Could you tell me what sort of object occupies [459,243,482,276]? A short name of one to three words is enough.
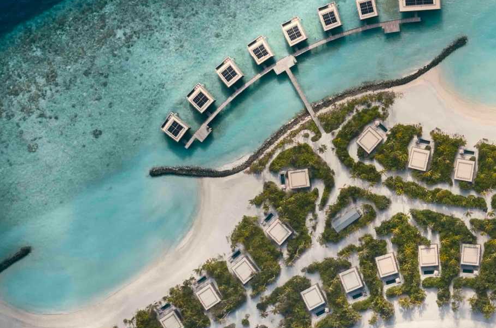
house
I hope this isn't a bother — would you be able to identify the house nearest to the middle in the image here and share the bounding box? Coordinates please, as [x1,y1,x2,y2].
[279,167,312,190]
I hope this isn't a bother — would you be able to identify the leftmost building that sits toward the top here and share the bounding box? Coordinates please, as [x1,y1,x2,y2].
[161,113,192,141]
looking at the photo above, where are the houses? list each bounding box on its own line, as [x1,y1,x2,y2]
[408,136,433,171]
[356,0,379,25]
[375,252,403,287]
[301,284,333,319]
[215,57,246,87]
[161,113,192,141]
[260,210,294,244]
[279,167,312,190]
[454,149,478,181]
[339,266,369,301]
[317,2,343,33]
[281,17,308,46]
[226,248,259,283]
[399,0,441,11]
[193,275,223,310]
[357,119,390,154]
[156,299,187,328]
[246,36,276,66]
[187,84,217,114]
[418,244,441,277]
[459,243,482,276]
